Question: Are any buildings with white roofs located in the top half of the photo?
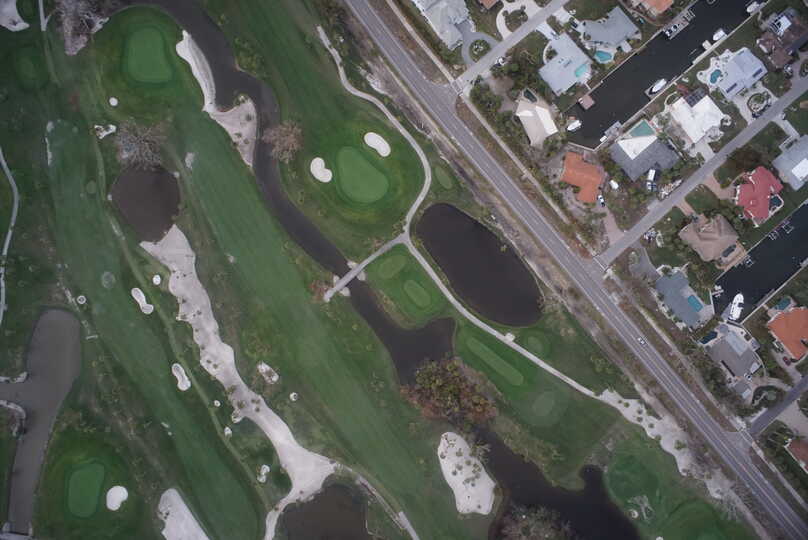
Yes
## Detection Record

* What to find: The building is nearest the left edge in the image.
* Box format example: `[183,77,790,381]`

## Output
[418,0,469,49]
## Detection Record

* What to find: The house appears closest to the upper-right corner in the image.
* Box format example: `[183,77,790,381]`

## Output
[759,6,808,68]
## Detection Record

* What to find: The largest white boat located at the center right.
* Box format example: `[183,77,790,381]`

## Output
[729,293,744,323]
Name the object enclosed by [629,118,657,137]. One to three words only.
swimming pool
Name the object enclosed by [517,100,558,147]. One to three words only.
house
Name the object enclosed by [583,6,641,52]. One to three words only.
house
